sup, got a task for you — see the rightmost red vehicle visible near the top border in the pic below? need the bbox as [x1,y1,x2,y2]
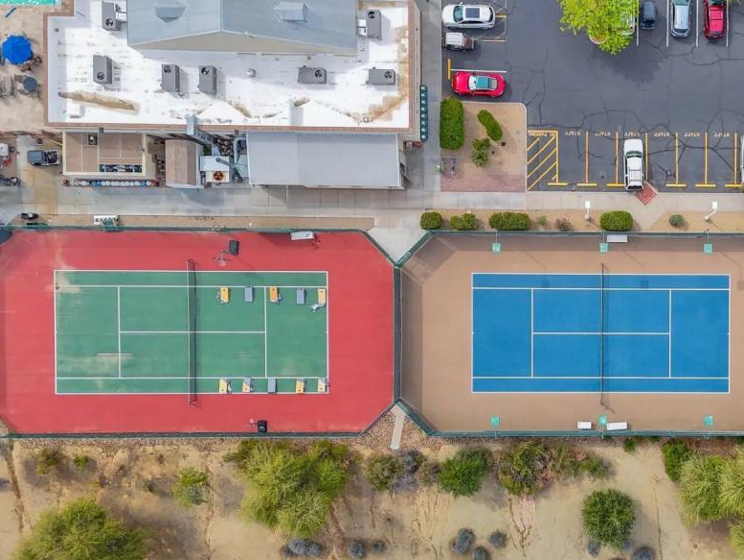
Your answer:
[702,0,727,42]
